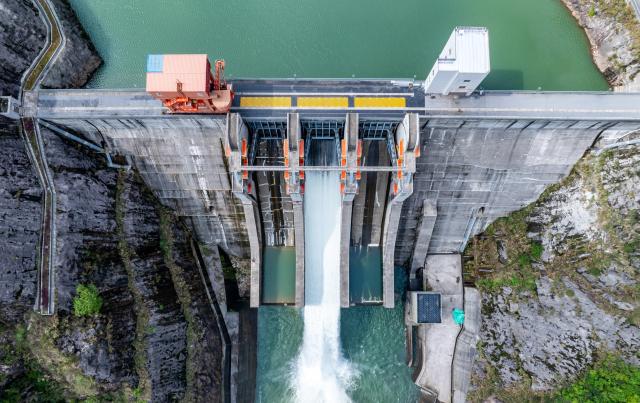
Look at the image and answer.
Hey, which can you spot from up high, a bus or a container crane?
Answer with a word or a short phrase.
container crane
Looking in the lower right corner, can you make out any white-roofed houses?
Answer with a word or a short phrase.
No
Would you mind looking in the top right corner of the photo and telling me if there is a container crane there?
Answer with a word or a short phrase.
No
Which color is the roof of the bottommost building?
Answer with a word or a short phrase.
blue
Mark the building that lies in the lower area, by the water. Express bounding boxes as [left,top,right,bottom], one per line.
[399,291,443,323]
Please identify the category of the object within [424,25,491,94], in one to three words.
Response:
house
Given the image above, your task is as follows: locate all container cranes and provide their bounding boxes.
[143,54,234,118]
